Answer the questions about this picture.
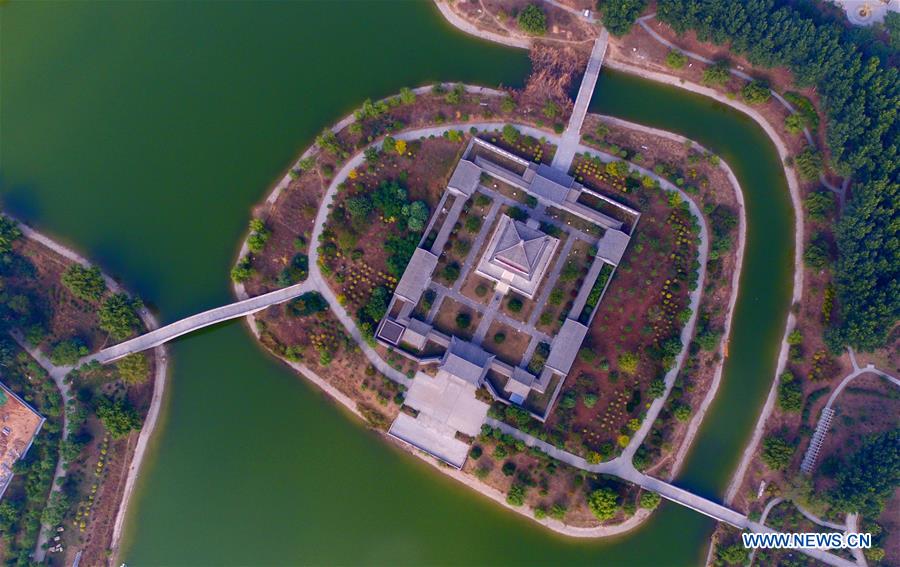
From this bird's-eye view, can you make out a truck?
No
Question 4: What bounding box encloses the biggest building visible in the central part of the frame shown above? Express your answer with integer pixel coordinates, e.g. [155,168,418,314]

[475,214,560,300]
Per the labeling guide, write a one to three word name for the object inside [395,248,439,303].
building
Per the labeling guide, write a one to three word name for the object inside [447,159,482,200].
building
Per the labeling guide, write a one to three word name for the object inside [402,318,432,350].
house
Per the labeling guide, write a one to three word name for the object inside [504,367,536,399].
house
